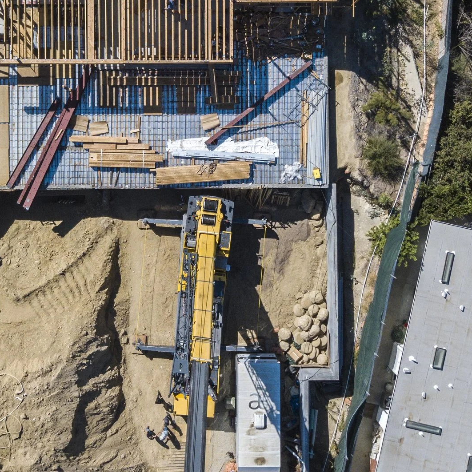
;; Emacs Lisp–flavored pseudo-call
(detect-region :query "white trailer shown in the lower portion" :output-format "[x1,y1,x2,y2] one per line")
[233,343,282,468]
